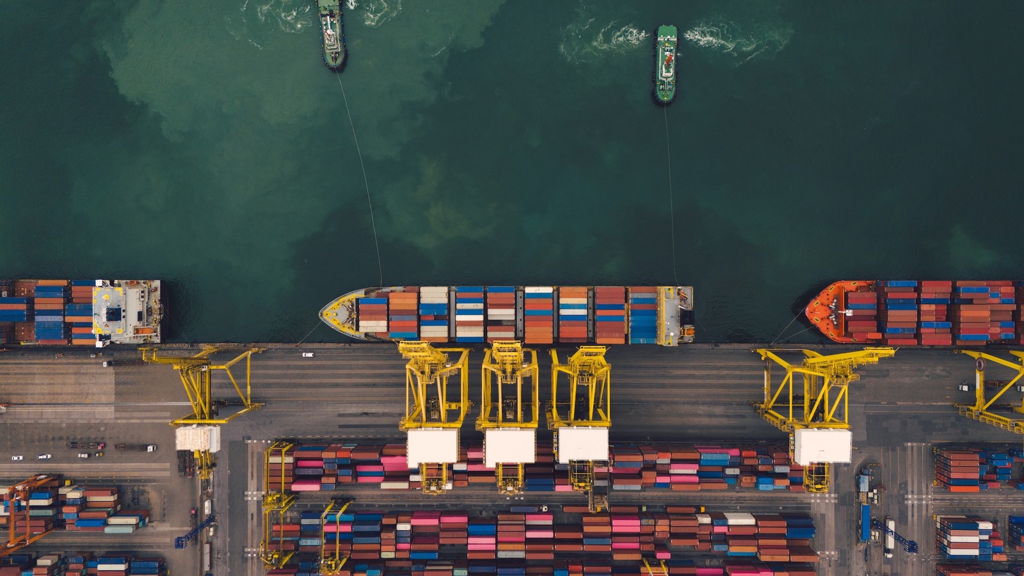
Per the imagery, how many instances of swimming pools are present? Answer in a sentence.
Not a single swimming pool can be seen.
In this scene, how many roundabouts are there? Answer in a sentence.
The picture shows no roundabouts.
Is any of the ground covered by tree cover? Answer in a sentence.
No, there is no tree cover in the image.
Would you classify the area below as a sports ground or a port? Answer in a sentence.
This looks like a port.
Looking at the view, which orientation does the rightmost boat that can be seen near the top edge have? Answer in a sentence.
From this overhead view, the rightmost boat that can be seen near the top edge appears to run up and down.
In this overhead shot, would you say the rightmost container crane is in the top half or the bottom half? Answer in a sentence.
It is in the bottom half that the rightmost container crane appears.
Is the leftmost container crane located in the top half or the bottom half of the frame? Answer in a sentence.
It is in the bottom half that the leftmost container crane appears.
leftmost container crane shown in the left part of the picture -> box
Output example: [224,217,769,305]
[10,472,64,545]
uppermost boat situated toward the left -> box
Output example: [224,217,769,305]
[316,0,348,70]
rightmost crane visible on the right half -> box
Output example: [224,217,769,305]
[949,348,1024,469]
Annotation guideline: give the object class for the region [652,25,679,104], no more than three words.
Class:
boat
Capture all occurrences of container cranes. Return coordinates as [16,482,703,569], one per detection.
[746,343,890,500]
[541,347,612,512]
[477,342,545,499]
[398,342,478,499]
[321,497,356,574]
[949,348,1024,469]
[10,472,64,545]
[135,348,262,477]
[264,496,303,570]
[265,436,304,509]
[639,554,669,576]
